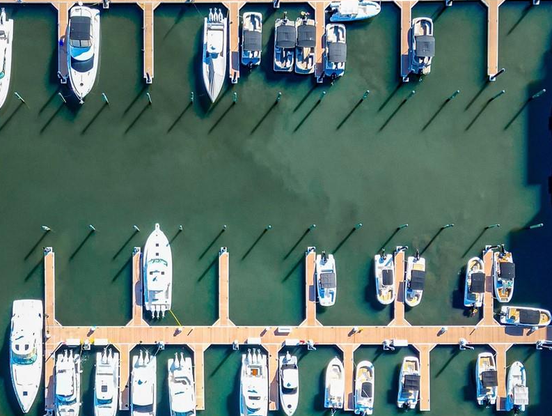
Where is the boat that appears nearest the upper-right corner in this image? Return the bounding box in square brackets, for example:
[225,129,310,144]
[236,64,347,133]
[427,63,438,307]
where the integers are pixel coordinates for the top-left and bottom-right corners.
[409,17,436,82]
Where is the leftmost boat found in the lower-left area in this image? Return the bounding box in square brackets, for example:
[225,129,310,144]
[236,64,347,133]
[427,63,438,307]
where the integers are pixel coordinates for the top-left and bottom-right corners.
[10,297,46,415]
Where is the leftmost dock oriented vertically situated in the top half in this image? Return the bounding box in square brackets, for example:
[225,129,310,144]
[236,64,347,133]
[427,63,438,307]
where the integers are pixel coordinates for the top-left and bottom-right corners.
[50,2,75,81]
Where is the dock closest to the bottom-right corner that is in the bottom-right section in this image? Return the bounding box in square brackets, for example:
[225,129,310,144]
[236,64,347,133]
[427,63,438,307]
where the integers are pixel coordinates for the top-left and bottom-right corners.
[489,345,514,411]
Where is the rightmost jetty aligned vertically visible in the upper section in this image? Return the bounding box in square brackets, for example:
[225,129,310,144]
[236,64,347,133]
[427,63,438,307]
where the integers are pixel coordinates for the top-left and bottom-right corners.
[480,2,505,77]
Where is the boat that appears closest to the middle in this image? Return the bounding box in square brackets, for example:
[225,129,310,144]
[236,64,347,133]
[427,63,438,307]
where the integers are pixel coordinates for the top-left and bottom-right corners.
[314,248,336,307]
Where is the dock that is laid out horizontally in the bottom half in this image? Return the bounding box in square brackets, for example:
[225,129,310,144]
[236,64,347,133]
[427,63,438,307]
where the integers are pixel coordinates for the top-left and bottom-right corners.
[45,327,552,345]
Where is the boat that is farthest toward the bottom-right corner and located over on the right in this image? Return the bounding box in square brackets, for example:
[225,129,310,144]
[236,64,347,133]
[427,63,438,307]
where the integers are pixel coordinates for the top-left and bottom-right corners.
[506,360,529,416]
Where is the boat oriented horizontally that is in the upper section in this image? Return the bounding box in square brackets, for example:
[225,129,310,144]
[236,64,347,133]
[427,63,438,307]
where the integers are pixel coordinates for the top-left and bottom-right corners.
[326,0,382,21]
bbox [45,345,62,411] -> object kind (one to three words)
pier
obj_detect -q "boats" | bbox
[130,344,157,416]
[402,250,427,307]
[278,346,299,416]
[475,353,499,411]
[54,343,82,416]
[464,257,486,314]
[409,17,436,82]
[240,12,261,73]
[93,341,120,416]
[326,0,382,21]
[200,5,226,103]
[167,347,197,416]
[314,248,336,307]
[373,248,396,305]
[397,356,421,413]
[494,306,552,328]
[491,245,516,303]
[66,4,101,106]
[323,357,344,416]
[273,16,296,74]
[143,223,173,320]
[352,360,375,416]
[10,297,46,415]
[0,8,17,110]
[294,15,316,76]
[323,24,347,87]
[238,345,269,416]
[506,360,529,416]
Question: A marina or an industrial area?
marina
